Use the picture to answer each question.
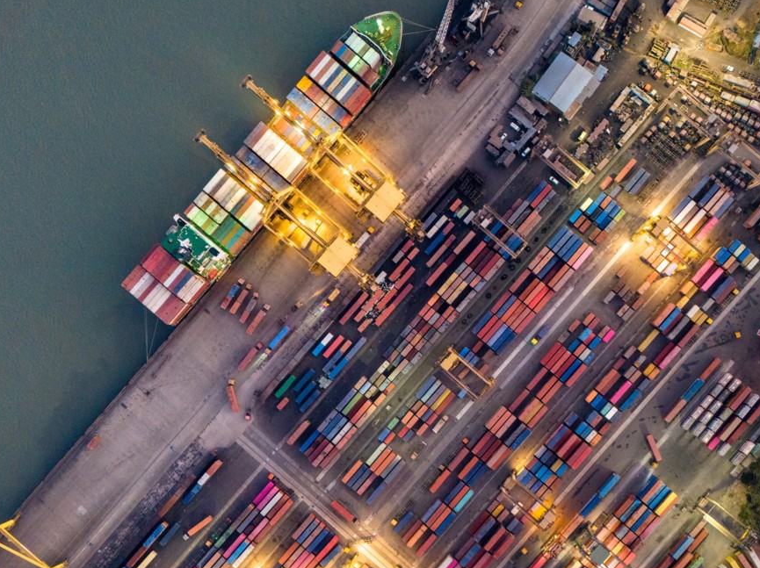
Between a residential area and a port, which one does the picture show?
port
